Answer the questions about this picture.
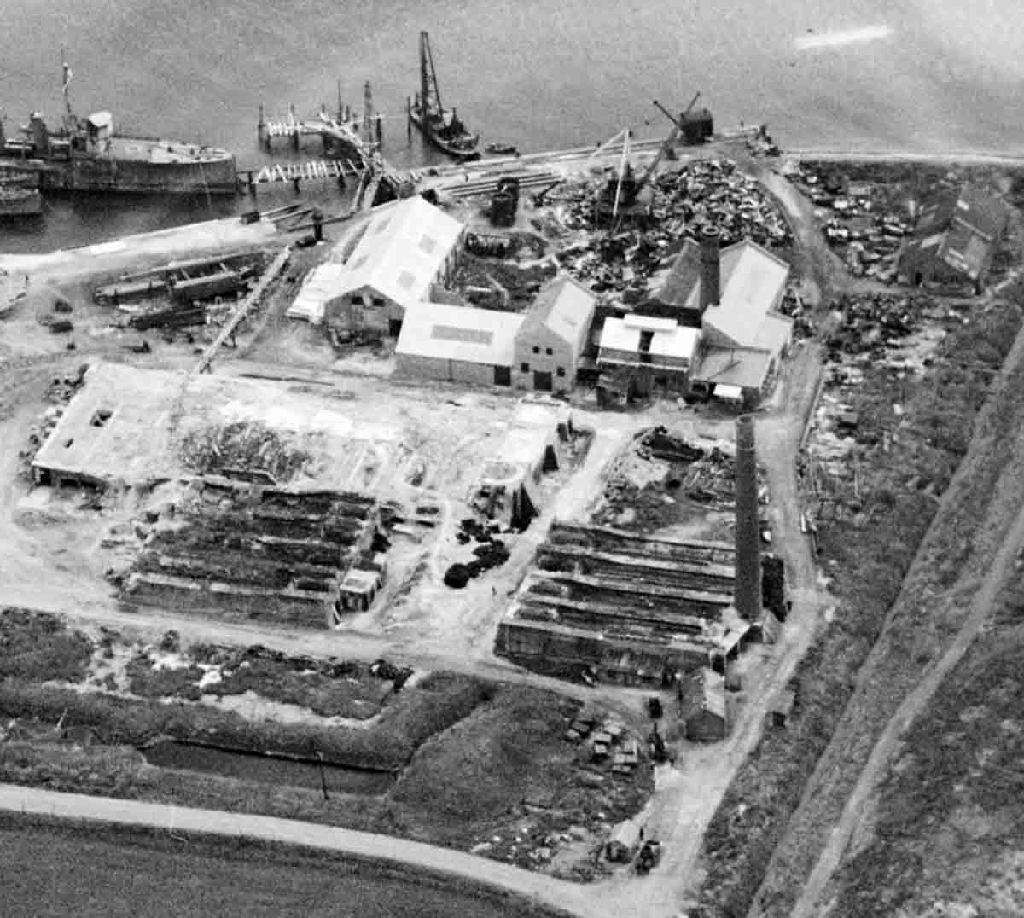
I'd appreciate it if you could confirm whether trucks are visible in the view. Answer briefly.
Yes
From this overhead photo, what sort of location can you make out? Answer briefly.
port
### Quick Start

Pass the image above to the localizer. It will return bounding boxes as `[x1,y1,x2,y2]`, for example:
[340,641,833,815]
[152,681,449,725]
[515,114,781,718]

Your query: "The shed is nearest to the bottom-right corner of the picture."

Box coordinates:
[766,684,802,730]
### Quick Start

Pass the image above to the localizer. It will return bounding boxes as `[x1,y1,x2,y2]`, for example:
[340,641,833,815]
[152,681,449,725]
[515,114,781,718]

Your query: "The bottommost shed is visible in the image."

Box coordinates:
[602,811,646,863]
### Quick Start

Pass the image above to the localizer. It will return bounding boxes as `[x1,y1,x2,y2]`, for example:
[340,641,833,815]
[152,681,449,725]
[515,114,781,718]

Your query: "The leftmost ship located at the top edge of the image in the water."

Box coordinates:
[0,45,240,203]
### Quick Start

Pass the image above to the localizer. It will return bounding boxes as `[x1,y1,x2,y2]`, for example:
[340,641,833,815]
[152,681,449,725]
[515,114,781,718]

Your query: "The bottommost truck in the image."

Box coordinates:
[636,833,668,867]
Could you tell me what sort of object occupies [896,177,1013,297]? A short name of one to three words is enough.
building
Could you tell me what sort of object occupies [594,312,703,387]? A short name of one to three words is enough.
building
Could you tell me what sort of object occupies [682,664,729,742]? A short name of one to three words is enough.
shed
